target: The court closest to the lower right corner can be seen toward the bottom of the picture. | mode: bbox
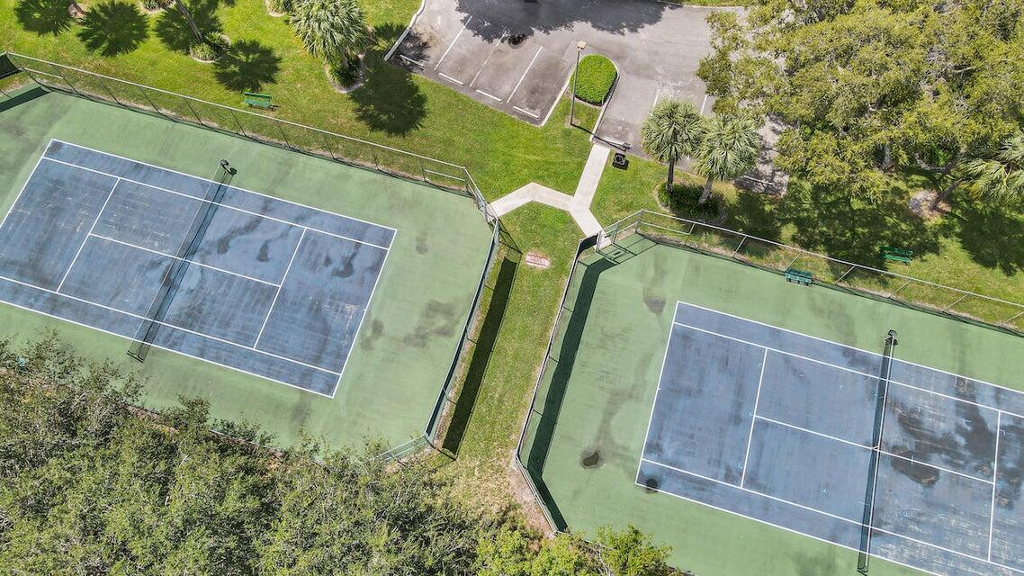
[518,234,1024,576]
